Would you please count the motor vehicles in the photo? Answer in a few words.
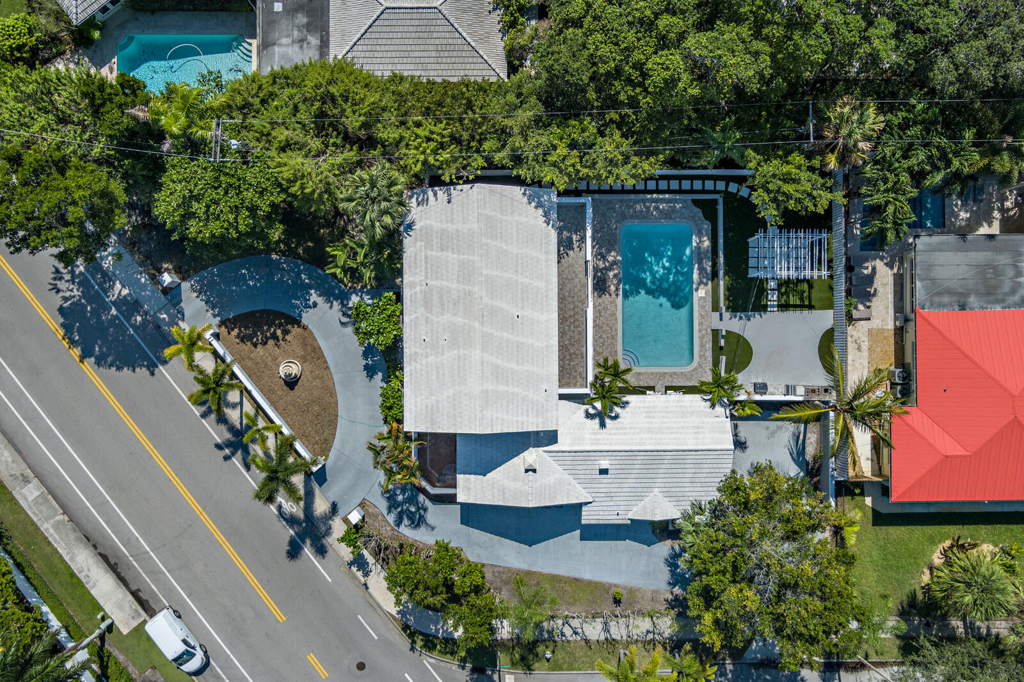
1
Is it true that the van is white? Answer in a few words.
Yes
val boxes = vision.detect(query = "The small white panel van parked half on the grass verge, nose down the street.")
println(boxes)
[145,605,208,674]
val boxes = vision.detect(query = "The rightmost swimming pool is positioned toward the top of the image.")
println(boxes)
[902,183,945,228]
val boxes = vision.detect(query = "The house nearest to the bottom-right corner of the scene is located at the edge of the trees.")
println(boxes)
[881,230,1024,503]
